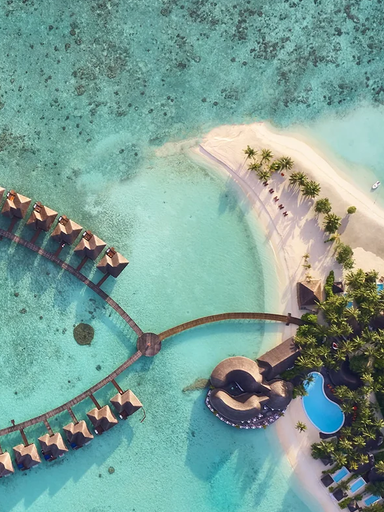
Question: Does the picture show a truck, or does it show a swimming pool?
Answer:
swimming pool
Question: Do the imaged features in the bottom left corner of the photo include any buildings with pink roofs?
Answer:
No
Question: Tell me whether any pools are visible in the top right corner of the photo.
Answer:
No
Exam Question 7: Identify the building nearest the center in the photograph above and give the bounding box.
[95,247,130,278]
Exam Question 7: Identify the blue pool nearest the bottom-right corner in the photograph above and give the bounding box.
[361,494,384,509]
